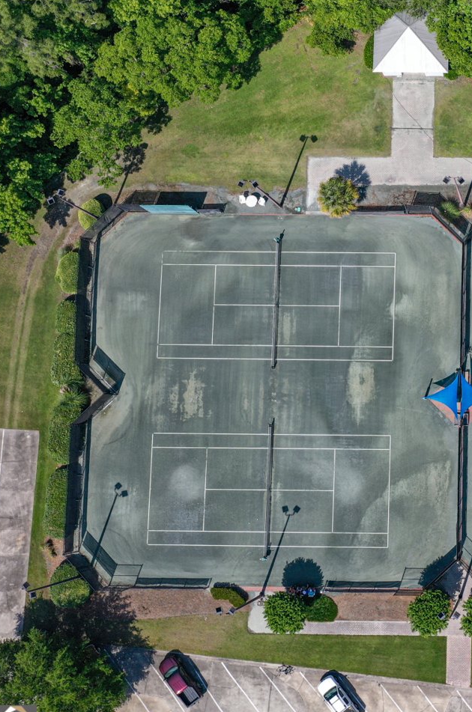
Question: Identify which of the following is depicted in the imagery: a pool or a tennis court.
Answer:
tennis court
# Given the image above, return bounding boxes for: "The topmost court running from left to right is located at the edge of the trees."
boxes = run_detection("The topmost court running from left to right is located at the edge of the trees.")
[90,213,465,398]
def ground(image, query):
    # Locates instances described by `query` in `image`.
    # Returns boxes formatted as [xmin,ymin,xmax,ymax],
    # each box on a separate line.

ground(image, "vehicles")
[159,653,205,711]
[316,671,361,712]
